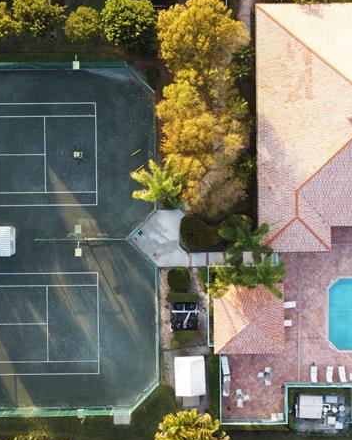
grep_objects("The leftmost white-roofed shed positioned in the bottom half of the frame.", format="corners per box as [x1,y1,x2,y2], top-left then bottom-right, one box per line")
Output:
[175,360,205,399]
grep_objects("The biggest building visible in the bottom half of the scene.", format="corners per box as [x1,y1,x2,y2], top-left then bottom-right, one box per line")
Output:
[213,286,286,354]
